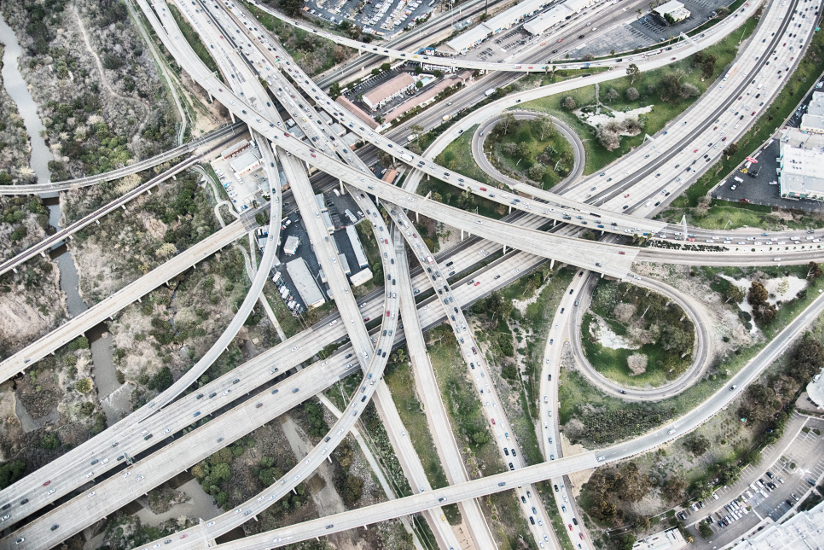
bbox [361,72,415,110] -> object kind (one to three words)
building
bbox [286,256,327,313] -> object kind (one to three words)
building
